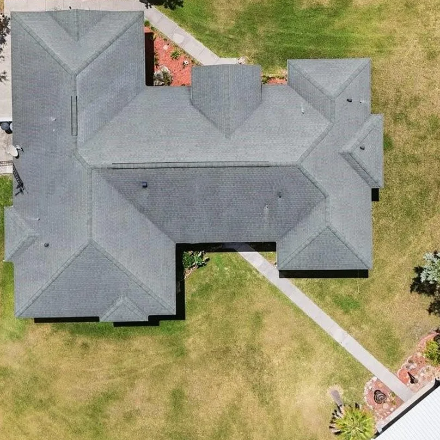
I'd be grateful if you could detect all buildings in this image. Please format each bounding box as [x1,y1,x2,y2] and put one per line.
[4,6,385,323]
[371,378,440,440]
